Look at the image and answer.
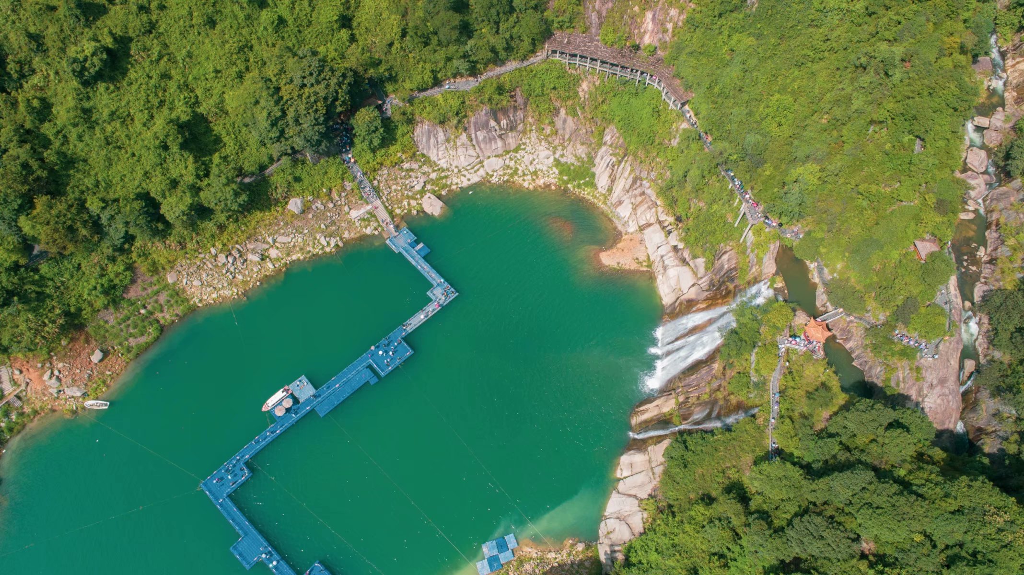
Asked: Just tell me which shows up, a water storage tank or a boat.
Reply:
boat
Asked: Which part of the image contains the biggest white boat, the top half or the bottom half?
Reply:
bottom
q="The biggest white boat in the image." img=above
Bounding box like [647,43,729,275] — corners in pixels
[261,385,292,411]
